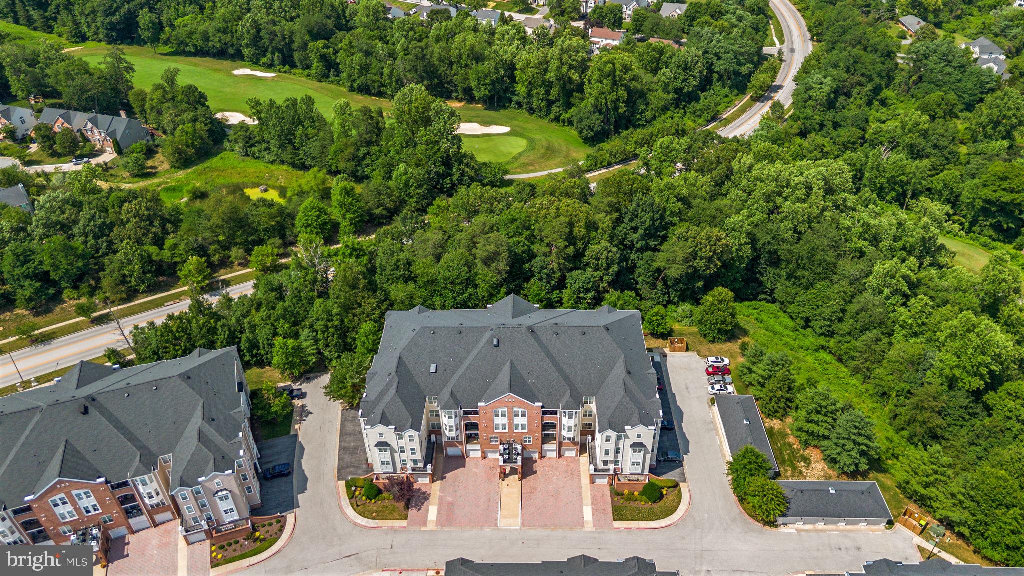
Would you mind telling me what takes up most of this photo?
trees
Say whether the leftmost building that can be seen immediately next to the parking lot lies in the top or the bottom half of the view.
bottom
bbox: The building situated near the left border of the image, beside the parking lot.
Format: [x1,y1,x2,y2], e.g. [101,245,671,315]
[0,346,285,576]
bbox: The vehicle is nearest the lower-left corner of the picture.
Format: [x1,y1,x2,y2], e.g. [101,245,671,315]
[261,465,290,481]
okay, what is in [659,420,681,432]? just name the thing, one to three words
vehicle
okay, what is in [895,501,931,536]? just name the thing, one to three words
building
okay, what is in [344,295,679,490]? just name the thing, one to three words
building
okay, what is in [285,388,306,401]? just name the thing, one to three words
vehicle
